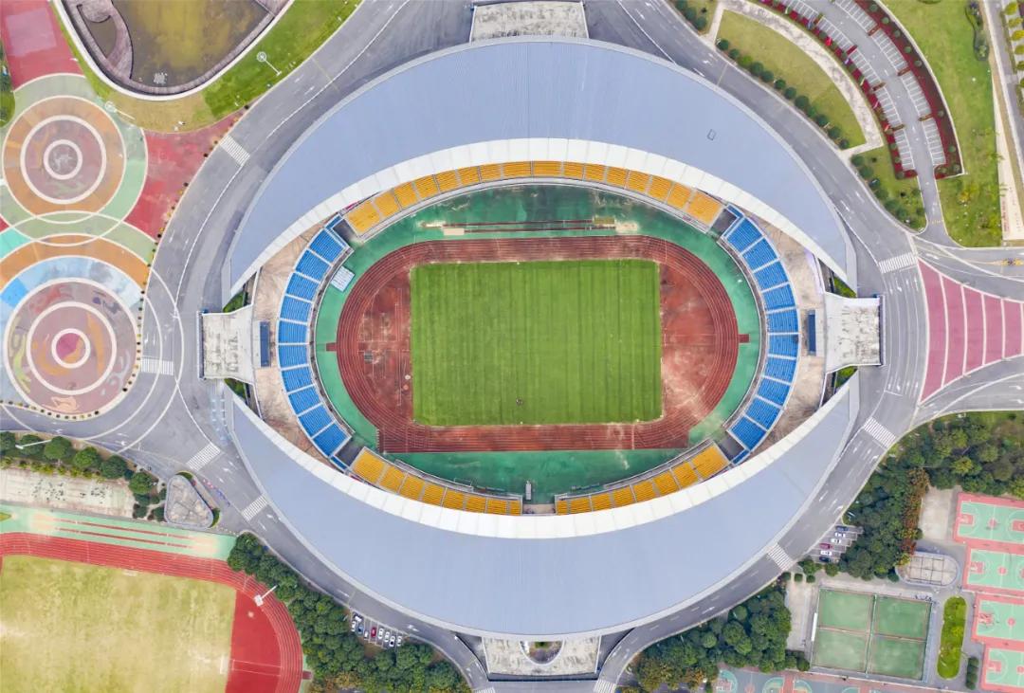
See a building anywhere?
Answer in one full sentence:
Yes, this view includes a building.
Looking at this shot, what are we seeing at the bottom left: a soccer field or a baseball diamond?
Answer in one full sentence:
It is a soccer field that can be seen at the bottom left.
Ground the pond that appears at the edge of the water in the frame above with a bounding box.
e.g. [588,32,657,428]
[52,0,293,100]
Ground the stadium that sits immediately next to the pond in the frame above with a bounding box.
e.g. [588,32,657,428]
[197,0,885,682]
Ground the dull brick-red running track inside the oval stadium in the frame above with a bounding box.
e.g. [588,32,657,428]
[326,188,748,499]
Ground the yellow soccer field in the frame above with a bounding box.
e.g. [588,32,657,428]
[0,554,235,693]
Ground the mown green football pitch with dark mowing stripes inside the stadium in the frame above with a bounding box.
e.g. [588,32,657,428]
[411,258,663,425]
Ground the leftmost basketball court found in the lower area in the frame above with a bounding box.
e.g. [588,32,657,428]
[712,664,787,693]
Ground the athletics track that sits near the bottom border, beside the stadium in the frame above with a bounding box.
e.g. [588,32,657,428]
[0,503,305,693]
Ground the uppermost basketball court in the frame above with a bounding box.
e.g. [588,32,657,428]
[952,493,1024,547]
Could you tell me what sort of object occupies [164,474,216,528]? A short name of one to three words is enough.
building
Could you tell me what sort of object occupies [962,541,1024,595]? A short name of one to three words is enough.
basketball court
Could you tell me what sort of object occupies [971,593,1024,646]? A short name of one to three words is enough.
basketball court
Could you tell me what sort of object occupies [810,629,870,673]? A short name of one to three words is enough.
tennis court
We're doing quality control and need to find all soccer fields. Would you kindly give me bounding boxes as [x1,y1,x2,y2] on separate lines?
[411,258,663,425]
[0,554,235,693]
